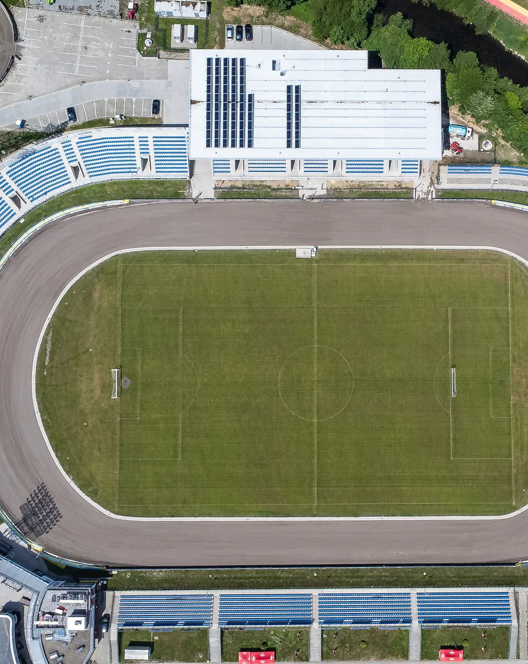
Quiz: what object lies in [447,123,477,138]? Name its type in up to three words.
vehicle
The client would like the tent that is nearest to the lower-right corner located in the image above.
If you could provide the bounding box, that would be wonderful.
[438,647,463,661]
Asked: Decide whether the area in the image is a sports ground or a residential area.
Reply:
sports ground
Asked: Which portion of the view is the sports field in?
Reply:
center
